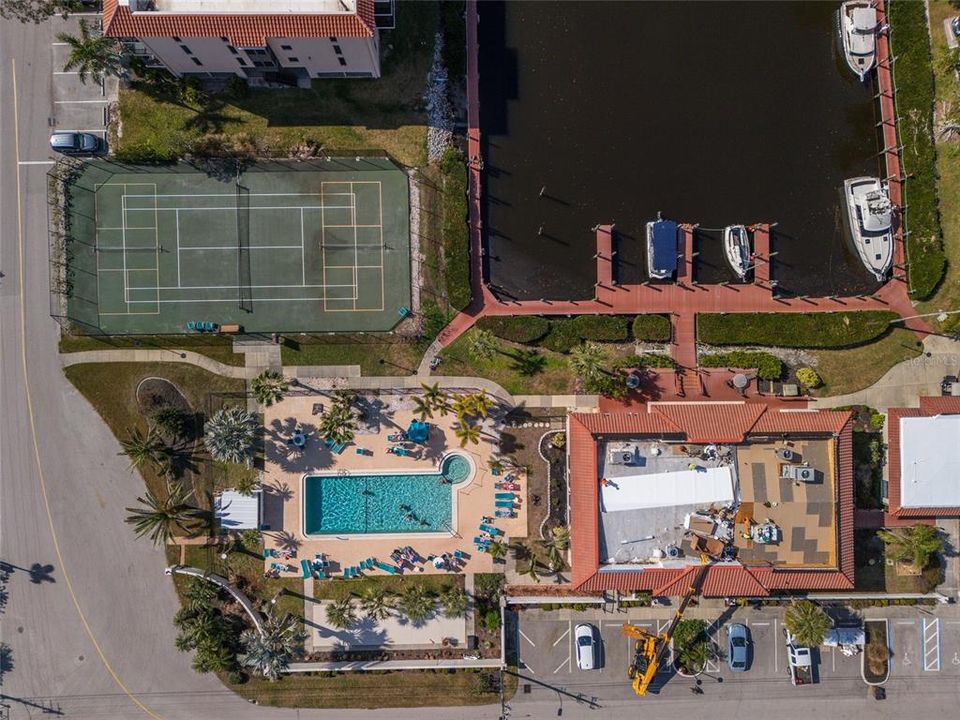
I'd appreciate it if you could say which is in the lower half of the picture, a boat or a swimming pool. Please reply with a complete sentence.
There is a swimming pool in the lower half of the picture.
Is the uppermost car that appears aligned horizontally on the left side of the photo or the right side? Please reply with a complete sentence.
You can find the uppermost car that appears aligned horizontally on the left side of the picture.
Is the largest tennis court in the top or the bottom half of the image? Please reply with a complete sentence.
Seen from above, the largest tennis court lies in the top half of the view.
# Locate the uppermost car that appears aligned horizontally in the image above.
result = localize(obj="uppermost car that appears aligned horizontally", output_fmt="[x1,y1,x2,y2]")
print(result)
[47,128,100,153]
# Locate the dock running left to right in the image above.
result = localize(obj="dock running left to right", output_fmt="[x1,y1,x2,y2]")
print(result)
[501,278,933,340]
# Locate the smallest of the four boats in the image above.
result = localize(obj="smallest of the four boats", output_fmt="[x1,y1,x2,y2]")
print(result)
[726,224,753,281]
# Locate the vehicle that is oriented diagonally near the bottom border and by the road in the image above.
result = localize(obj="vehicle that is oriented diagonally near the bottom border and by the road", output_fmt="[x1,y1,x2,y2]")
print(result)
[610,541,713,696]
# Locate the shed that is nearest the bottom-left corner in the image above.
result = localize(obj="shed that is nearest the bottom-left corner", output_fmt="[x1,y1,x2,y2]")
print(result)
[214,489,264,530]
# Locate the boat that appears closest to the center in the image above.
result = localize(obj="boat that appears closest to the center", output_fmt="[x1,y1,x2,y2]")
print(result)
[647,216,681,279]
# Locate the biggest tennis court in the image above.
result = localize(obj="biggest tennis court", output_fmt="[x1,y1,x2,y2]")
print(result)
[67,159,411,333]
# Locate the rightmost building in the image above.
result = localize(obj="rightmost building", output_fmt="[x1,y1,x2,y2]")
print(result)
[880,396,960,518]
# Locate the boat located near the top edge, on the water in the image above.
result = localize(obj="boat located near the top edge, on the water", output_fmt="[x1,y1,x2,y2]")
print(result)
[832,0,878,82]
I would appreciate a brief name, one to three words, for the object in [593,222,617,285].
pier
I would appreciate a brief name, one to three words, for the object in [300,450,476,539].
swimming pool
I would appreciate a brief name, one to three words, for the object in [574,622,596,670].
car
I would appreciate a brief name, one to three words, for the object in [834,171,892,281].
boat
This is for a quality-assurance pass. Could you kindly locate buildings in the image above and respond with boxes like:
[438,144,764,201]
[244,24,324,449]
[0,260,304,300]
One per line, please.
[102,0,404,88]
[214,489,264,530]
[880,396,960,518]
[568,401,855,597]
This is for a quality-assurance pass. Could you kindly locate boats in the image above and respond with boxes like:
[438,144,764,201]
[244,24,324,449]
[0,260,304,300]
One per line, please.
[832,0,878,82]
[647,216,681,279]
[834,171,892,281]
[726,224,753,281]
